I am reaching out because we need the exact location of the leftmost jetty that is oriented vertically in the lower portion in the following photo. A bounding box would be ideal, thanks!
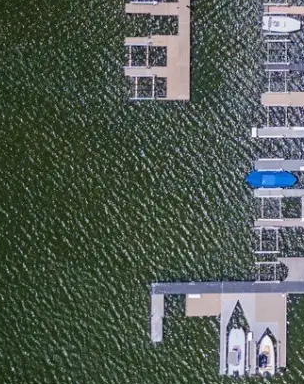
[150,293,165,342]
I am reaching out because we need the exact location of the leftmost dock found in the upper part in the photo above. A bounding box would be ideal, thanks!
[124,0,191,100]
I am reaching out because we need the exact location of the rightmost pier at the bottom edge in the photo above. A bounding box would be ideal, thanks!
[255,293,287,368]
